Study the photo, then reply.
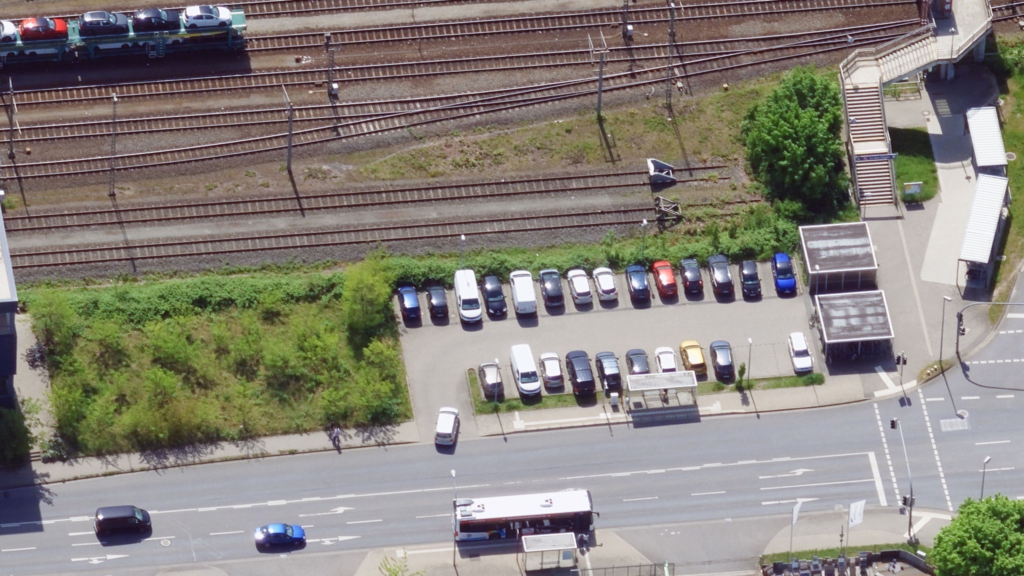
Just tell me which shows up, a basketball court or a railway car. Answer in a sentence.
The one in the frame is a railway car.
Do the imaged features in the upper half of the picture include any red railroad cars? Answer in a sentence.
No, in the upper half of the picture there is no red railroad car.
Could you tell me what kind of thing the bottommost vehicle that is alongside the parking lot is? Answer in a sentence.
I'd identify the bottommost vehicle that is alongside the parking lot as a bus.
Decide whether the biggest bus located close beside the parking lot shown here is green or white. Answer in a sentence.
In this view, the biggest bus located close beside the parking lot is white.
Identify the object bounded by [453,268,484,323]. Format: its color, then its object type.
white vehicle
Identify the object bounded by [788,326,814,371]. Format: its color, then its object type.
white car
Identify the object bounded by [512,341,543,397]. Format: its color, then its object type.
white vehicle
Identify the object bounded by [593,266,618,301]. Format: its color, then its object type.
white car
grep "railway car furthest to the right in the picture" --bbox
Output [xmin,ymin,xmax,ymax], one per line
[82,3,255,63]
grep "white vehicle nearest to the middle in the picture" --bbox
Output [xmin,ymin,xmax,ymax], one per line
[509,274,537,316]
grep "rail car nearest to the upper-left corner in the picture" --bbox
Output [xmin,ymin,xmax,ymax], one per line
[0,16,81,69]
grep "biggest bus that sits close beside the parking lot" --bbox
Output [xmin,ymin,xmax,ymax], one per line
[452,489,604,541]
